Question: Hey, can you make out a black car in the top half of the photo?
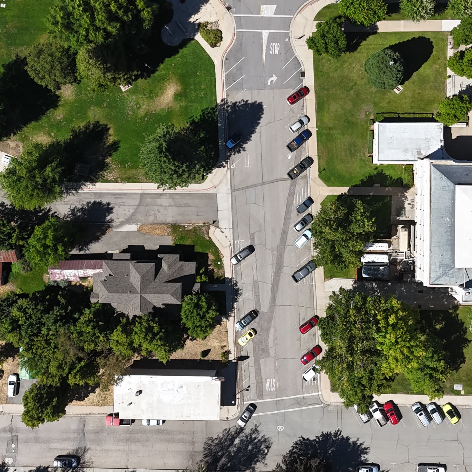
Yes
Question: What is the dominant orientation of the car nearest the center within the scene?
at an angle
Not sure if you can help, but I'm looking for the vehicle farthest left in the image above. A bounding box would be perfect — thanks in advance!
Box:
[6,374,18,397]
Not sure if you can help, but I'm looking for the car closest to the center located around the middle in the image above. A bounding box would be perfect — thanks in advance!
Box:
[231,244,255,266]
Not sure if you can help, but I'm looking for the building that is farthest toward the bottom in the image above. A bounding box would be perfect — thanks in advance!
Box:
[114,369,225,420]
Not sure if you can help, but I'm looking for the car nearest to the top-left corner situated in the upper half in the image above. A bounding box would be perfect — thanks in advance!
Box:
[225,133,243,149]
